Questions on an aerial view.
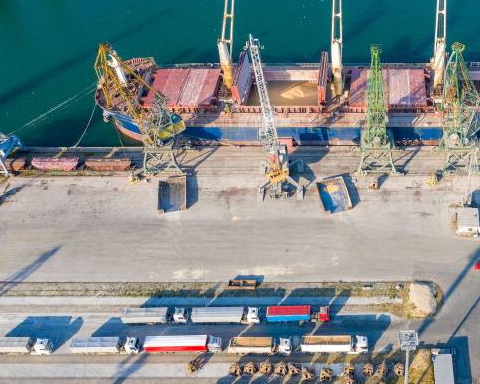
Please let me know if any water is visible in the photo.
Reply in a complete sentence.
Yes, some water is visible.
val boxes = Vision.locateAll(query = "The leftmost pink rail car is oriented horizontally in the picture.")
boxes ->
[26,156,81,170]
